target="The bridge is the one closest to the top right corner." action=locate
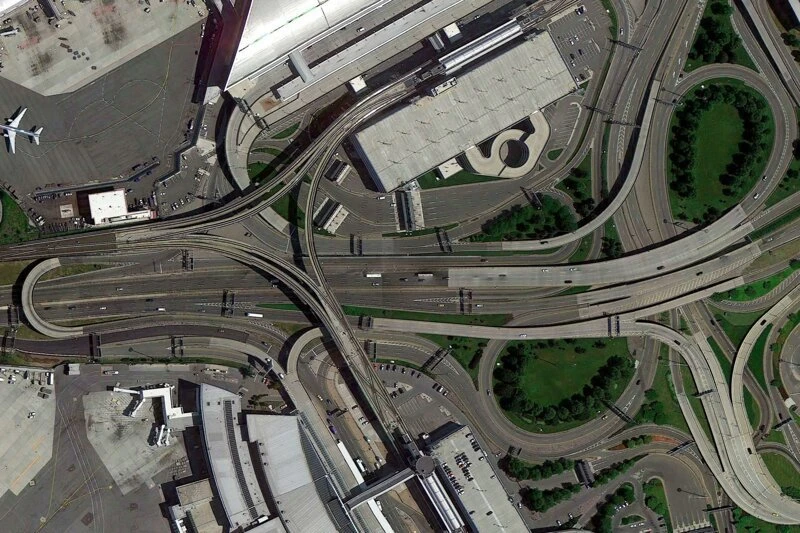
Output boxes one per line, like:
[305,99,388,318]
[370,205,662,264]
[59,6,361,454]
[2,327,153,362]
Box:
[741,0,791,78]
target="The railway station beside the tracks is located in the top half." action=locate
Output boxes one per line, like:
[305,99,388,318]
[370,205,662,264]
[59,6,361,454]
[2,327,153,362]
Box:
[434,17,522,75]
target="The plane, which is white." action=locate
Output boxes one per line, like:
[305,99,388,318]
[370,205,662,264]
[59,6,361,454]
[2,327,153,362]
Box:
[0,107,38,153]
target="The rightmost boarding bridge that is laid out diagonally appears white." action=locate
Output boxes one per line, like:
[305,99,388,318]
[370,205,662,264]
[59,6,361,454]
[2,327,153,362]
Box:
[129,398,147,417]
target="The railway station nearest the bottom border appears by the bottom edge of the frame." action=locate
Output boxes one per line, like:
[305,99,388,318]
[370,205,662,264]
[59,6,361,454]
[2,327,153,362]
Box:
[420,468,468,533]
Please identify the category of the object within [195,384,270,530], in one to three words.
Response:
building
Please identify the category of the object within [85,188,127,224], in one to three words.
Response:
building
